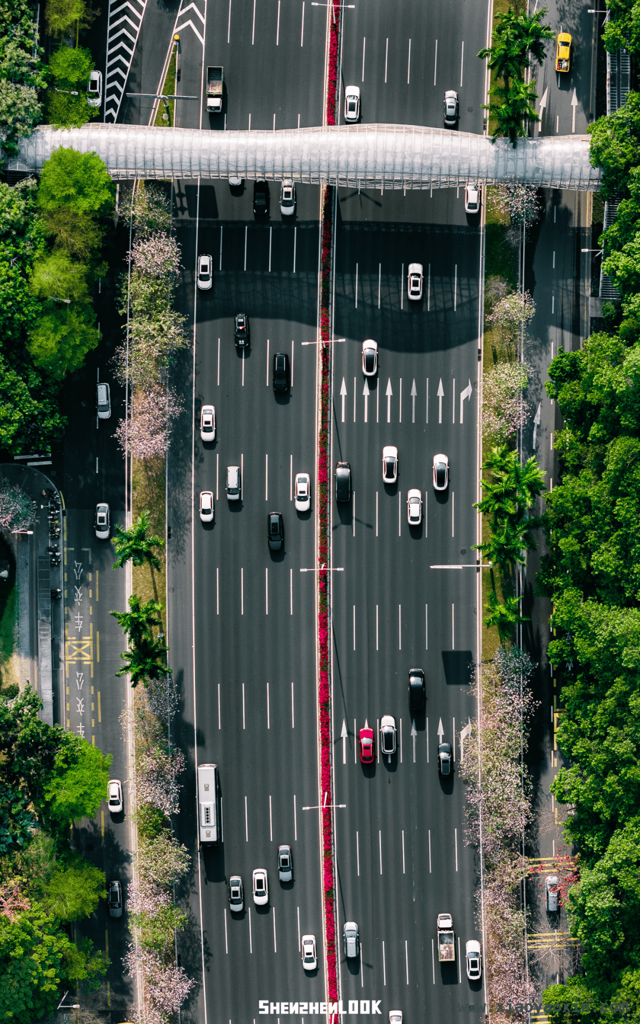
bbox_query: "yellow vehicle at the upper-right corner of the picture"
[555,33,573,74]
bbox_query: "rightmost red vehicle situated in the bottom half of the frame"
[359,727,375,764]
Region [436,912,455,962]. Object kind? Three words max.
vehicle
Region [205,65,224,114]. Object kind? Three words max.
vehicle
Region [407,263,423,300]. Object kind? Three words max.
car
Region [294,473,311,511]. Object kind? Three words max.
car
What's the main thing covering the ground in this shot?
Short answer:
paved ground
